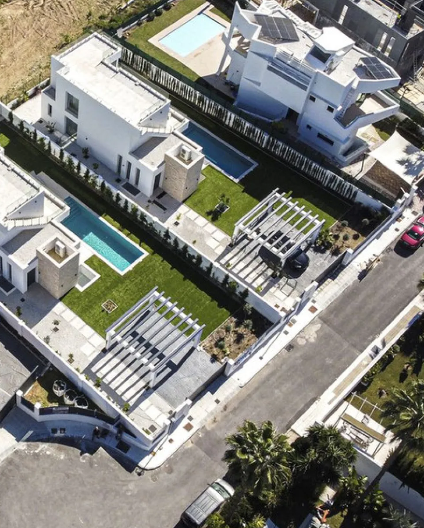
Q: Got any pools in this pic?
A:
Yes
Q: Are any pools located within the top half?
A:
Yes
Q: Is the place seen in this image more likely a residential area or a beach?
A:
residential area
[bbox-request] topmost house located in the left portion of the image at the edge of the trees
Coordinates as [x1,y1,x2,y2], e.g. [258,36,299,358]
[41,26,220,203]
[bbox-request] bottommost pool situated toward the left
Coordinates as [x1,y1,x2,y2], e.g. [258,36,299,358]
[60,192,148,275]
